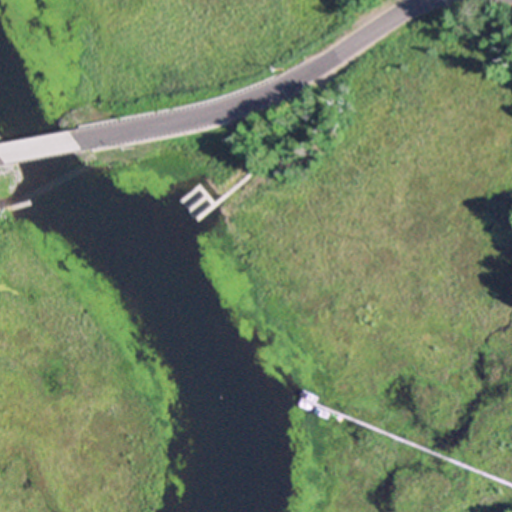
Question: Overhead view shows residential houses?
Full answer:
No, the scene contains no residential house.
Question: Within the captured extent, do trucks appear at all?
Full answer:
No, the picture doesn't show any truck.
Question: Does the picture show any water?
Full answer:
Yes, there is water in the image.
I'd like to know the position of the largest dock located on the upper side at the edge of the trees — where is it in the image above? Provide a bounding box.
[181,172,252,219]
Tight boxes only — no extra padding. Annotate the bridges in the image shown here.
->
[0,127,80,168]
